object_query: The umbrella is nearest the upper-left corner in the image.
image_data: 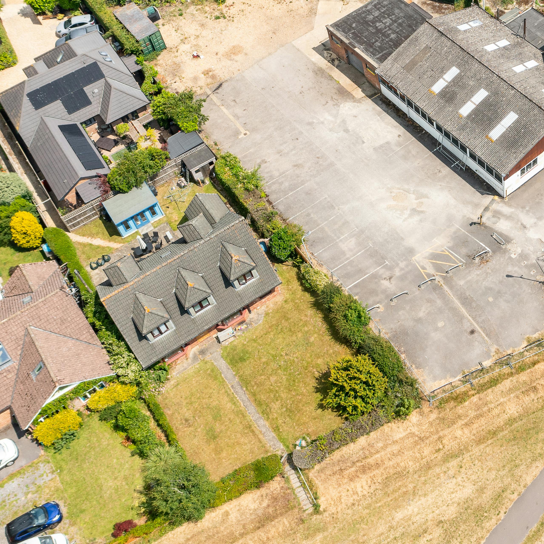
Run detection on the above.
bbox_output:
[95,136,118,151]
